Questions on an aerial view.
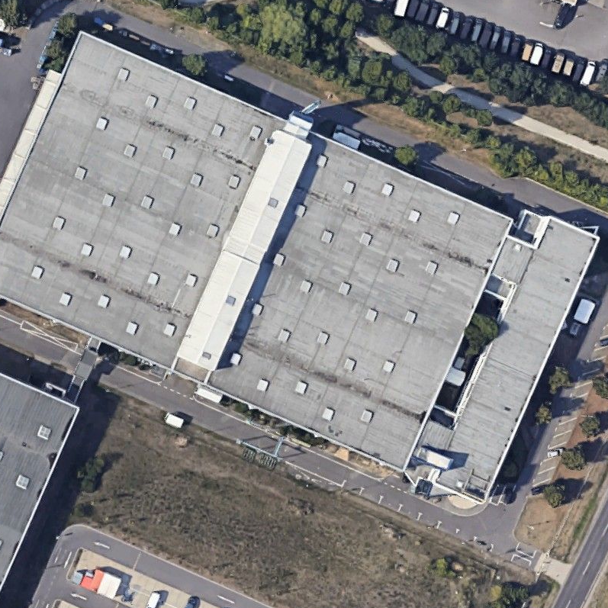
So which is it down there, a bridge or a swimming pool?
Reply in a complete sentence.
This aerial view contains a bridge.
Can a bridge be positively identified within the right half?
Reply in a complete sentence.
No, no bridge appears within the right half.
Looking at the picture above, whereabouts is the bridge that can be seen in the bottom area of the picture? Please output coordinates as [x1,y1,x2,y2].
[67,338,100,403]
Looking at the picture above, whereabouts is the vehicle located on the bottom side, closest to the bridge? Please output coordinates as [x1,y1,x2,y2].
[163,414,186,428]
